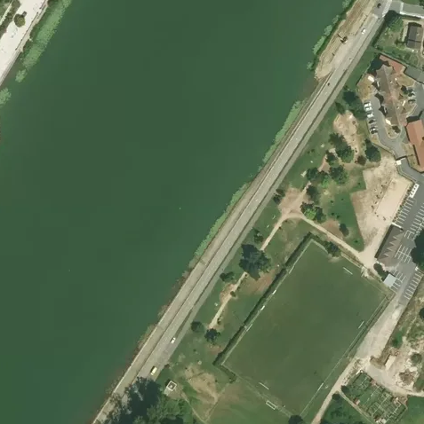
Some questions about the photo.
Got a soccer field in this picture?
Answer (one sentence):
Yes, the photo shows a soccer field.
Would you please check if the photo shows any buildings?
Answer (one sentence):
Yes, there's a building here.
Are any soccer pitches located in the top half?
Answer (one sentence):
No, no soccer pitch is visible in the top half.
